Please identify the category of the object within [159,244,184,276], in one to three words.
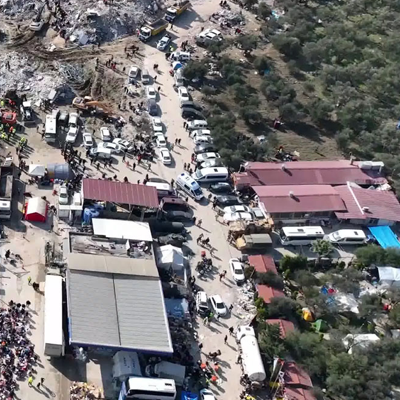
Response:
tent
